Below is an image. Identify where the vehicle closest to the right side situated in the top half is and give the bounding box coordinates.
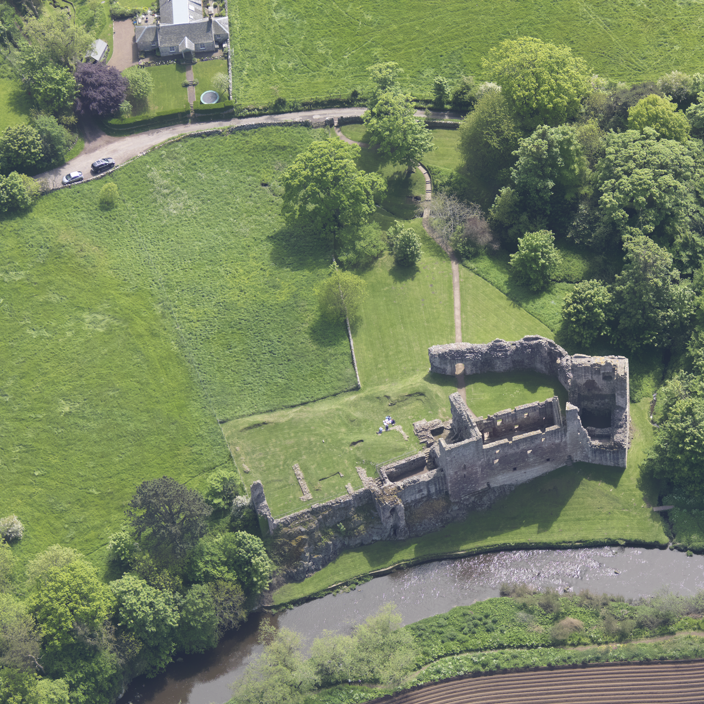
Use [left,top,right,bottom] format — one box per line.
[90,156,116,172]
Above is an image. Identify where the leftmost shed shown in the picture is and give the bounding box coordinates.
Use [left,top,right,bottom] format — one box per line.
[85,34,106,60]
